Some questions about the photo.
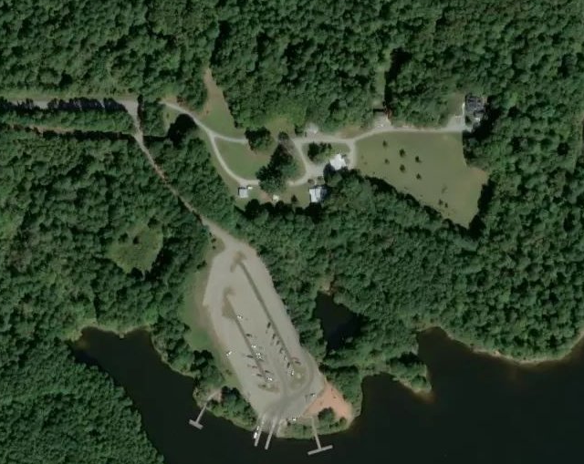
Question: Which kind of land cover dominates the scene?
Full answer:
What you mostly see from above here is trees.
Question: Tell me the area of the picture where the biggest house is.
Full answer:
Look in the top right portion of the view to spot the biggest house.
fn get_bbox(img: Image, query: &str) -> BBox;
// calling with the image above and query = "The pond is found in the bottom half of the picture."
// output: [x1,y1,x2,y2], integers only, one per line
[313,292,370,357]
